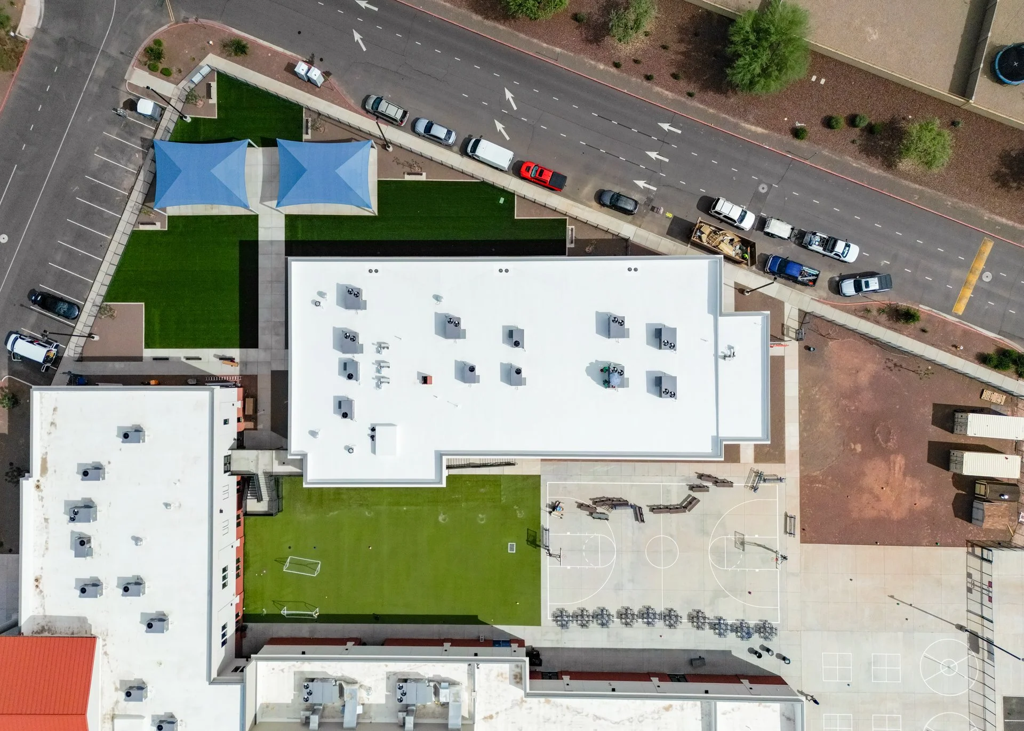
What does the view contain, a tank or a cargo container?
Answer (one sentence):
I can see a cargo container in this picture.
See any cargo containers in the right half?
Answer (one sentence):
Yes, there is a cargo container in the right half.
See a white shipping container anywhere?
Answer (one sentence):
Yes, the photo shows a white shipping container.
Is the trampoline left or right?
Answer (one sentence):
It is on the right.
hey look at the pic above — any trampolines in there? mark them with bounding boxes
[992,42,1024,87]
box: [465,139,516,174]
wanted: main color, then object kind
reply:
white van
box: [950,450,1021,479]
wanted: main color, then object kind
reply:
white shipping container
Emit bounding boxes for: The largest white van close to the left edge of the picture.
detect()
[7,336,66,372]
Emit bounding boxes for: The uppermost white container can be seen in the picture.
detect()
[954,413,1024,440]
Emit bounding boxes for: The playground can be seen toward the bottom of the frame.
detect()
[801,543,1024,731]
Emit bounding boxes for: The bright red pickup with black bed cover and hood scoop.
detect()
[518,162,568,194]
